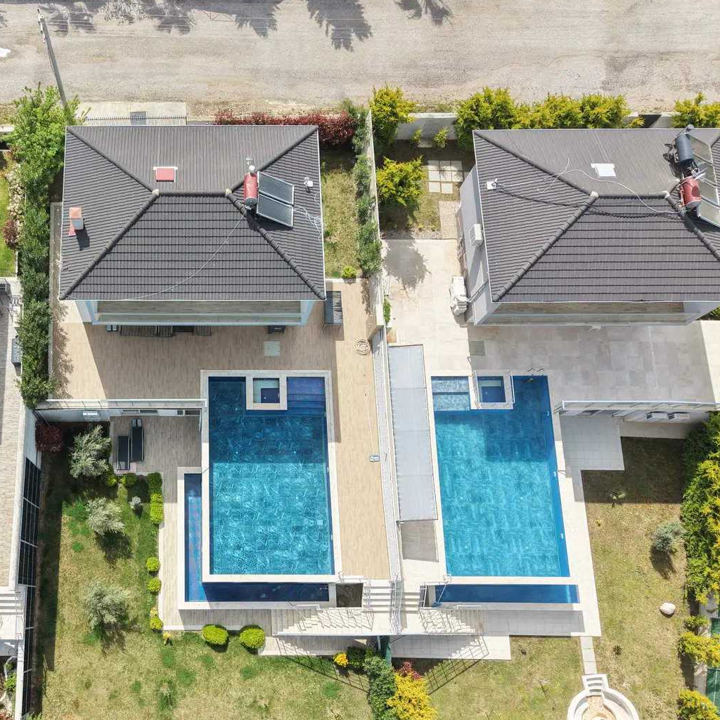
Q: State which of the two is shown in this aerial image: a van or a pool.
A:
pool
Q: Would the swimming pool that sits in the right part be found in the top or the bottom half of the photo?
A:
bottom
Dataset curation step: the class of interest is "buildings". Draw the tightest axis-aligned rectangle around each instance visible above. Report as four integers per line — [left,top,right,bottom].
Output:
[460,127,720,325]
[57,124,327,325]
